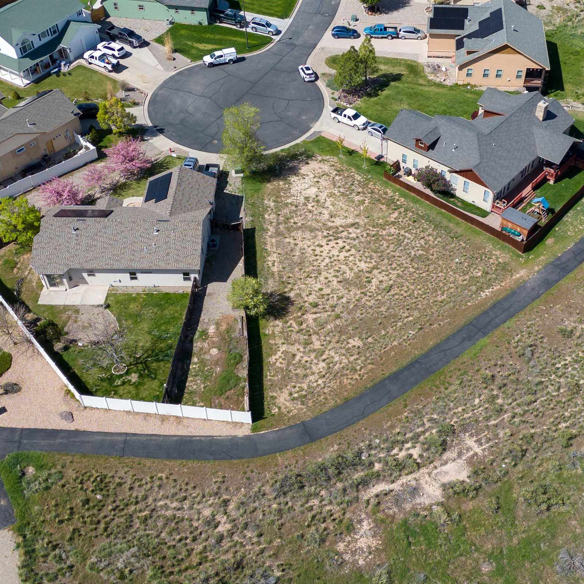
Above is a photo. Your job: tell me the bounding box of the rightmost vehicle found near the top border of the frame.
[398,26,425,40]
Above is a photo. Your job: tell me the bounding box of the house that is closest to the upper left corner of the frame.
[0,0,100,88]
